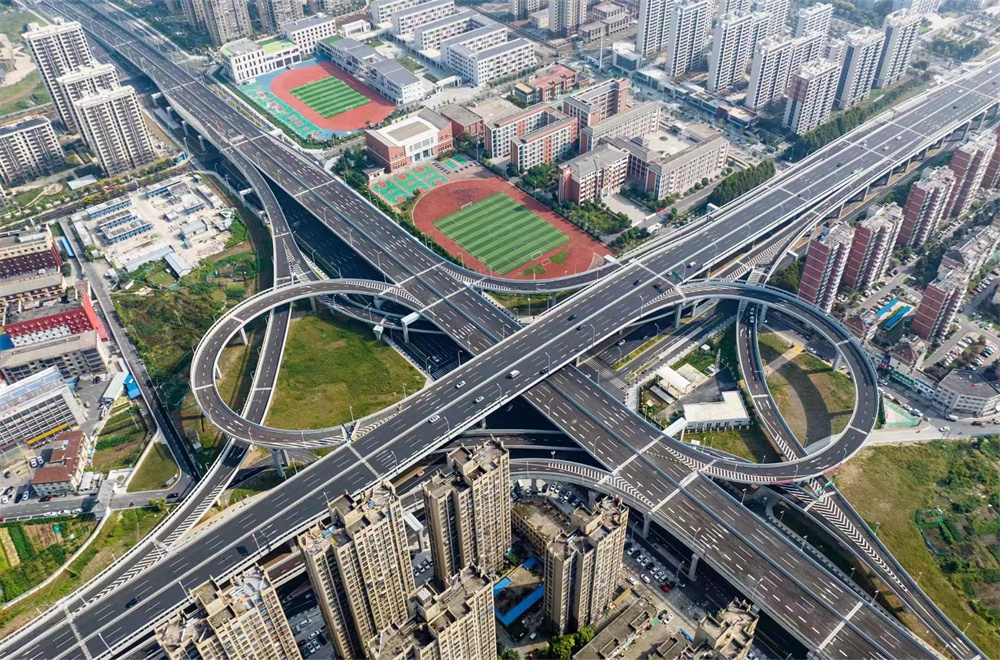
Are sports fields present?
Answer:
Yes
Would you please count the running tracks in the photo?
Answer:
2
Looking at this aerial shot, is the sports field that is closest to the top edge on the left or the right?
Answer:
left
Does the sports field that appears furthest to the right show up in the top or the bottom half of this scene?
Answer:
top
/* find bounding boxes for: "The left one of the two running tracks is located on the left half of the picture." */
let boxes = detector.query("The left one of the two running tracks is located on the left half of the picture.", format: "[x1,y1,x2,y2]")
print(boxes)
[271,60,396,131]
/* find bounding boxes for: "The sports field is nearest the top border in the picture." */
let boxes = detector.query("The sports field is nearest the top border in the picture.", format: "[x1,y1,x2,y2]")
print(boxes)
[227,48,396,139]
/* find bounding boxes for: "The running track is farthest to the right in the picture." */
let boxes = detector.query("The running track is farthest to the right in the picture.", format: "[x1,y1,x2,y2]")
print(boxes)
[413,178,616,279]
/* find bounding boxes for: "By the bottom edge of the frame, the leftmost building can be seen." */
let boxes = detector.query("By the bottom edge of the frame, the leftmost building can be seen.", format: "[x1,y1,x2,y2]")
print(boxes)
[147,560,296,660]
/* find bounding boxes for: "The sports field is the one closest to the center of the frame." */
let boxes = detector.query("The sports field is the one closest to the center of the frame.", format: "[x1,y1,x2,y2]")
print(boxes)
[379,153,617,279]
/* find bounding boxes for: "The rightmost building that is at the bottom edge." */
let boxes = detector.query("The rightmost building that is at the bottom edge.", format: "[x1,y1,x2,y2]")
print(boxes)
[668,581,762,660]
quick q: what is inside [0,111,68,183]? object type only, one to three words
building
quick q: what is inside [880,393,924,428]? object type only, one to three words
sports court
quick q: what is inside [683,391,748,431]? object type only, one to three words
building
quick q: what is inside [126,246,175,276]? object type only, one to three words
shed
